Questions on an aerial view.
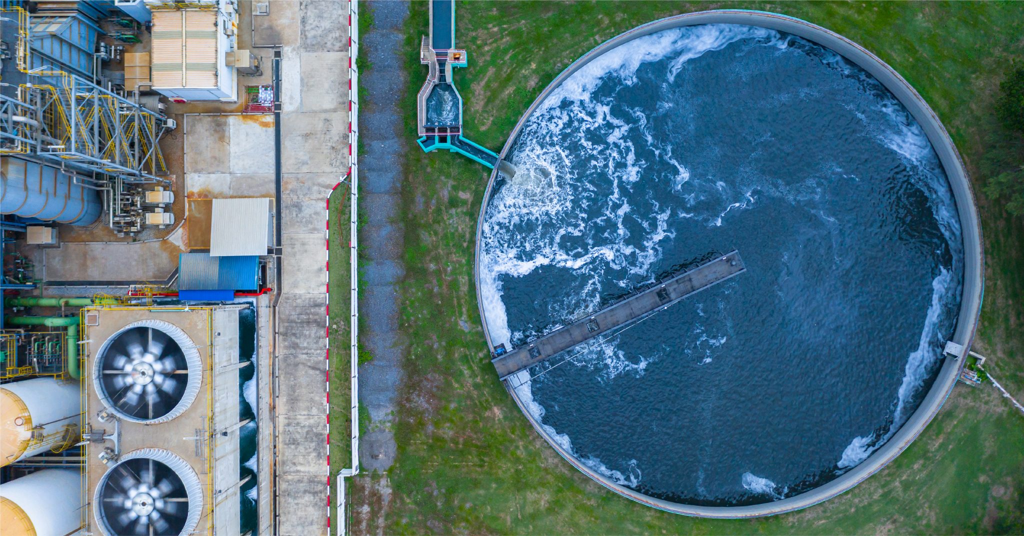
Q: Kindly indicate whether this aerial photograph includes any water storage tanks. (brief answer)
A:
Yes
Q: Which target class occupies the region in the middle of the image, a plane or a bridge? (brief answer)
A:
bridge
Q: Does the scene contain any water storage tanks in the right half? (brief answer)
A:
Yes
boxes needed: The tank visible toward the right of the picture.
[475,10,984,519]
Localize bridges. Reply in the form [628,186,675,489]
[491,245,748,381]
